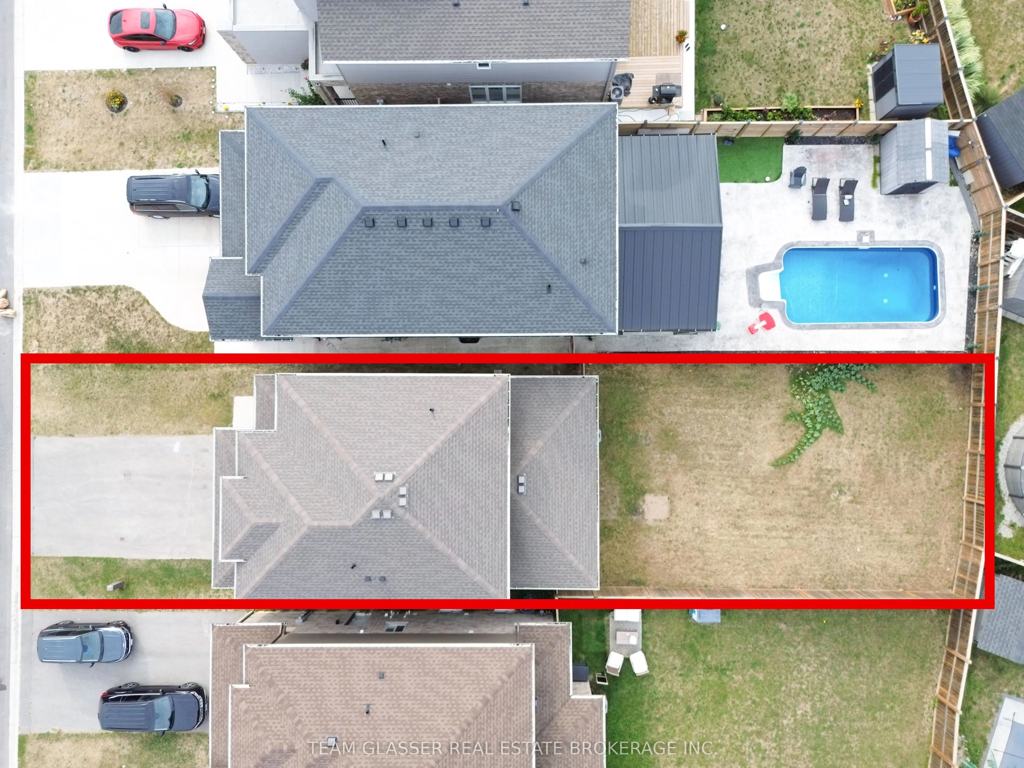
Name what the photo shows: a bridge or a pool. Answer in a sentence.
The one in the frame is a pool.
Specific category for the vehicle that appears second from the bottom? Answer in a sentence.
I'd identify the vehicle that appears second from the bottom as a car.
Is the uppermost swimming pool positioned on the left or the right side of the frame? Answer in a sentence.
The uppermost swimming pool appears in the right half of the scene.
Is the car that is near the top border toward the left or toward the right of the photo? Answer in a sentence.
It is on the left.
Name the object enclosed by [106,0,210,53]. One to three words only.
car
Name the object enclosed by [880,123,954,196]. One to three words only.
shed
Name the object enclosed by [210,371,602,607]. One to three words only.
house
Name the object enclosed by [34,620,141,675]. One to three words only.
car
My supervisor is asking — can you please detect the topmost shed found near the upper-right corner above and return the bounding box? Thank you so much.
[873,42,945,118]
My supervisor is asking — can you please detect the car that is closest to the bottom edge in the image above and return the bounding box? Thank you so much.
[96,681,208,740]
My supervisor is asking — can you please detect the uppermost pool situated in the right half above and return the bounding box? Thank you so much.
[746,230,947,330]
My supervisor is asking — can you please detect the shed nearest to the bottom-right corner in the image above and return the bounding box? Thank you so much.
[961,568,1024,664]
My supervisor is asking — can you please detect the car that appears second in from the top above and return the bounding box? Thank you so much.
[126,166,217,219]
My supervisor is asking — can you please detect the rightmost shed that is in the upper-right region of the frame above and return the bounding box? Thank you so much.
[977,92,1024,187]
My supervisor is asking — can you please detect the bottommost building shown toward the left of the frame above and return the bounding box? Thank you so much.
[207,601,608,768]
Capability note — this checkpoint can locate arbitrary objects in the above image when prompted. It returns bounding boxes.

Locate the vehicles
[96,681,208,740]
[34,620,141,675]
[126,166,217,219]
[106,0,210,53]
